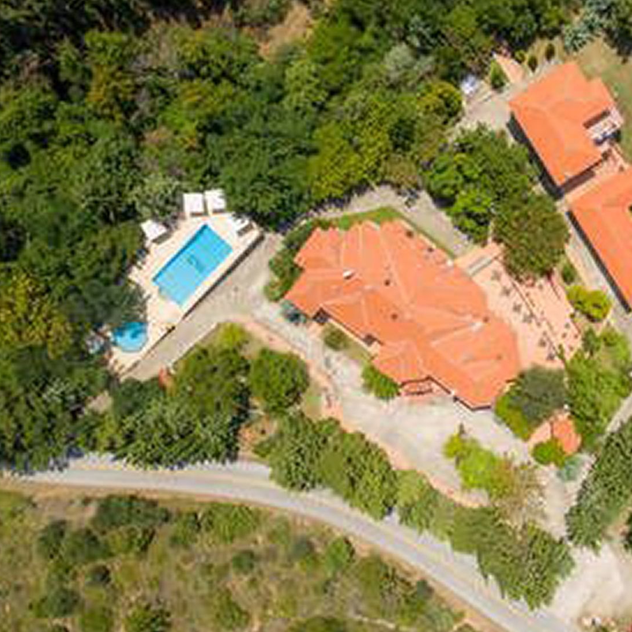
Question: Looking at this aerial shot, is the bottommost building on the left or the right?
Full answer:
The bottommost building sits on the right side.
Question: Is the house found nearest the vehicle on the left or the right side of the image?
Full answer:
The house found nearest the vehicle appears in the right half of the scene.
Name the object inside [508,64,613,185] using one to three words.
house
